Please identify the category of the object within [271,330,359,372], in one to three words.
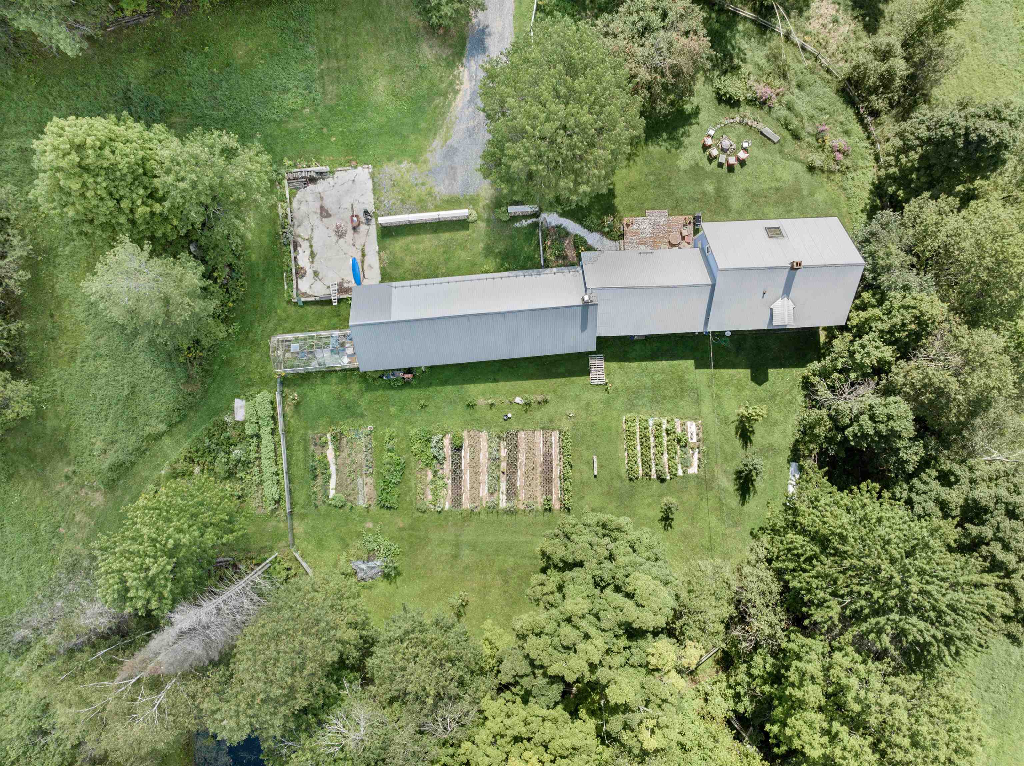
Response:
greenhouse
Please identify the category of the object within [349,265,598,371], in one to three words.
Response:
barn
